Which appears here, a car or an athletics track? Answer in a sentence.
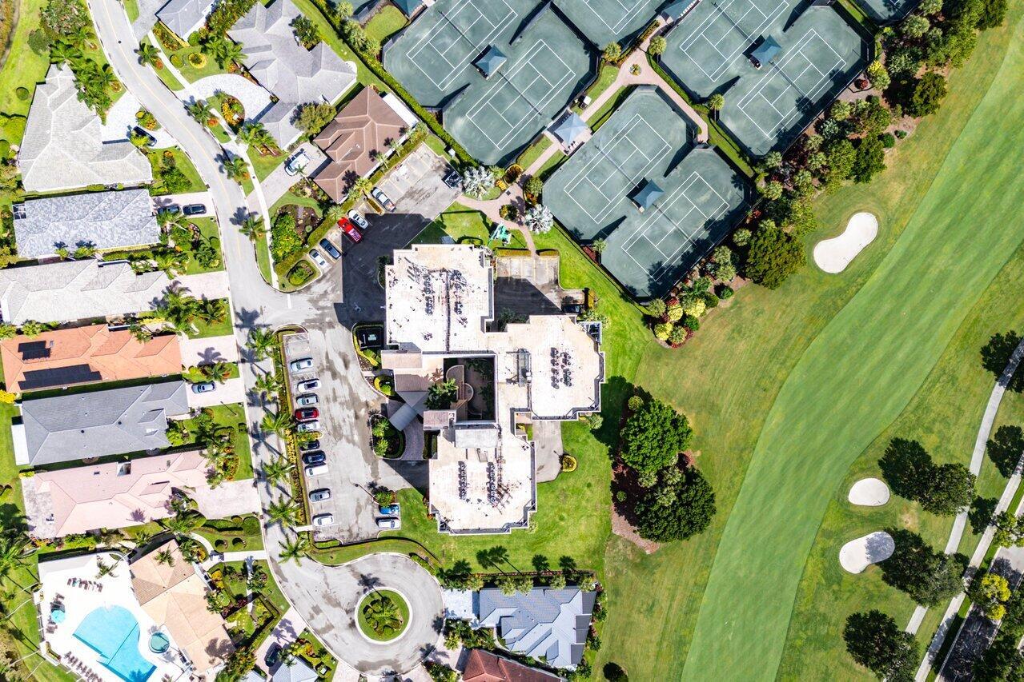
The one in the frame is a car.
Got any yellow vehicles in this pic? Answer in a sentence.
No, there isn't any yellow vehicle down there.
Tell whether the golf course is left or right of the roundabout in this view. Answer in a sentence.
From the viewer's perspective, the golf course falls to the right of the roundabout.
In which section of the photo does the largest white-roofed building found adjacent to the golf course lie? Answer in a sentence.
The largest white-roofed building found adjacent to the golf course sits in the center section of the image.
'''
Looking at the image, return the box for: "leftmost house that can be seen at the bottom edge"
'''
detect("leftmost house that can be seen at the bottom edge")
[129,538,239,674]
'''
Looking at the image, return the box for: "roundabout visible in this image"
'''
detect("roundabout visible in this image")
[355,587,411,644]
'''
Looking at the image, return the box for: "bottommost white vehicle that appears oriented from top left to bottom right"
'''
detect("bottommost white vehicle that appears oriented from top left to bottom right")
[309,248,328,268]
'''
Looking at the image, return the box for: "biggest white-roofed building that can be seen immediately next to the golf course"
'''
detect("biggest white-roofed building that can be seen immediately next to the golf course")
[381,244,605,535]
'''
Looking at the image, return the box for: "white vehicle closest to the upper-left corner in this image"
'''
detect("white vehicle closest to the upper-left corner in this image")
[287,152,307,173]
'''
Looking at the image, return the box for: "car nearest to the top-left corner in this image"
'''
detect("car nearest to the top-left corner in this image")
[133,127,155,143]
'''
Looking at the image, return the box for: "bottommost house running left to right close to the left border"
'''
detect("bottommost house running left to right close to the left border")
[33,449,212,538]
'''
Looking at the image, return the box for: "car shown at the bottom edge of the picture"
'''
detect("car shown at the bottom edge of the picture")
[265,644,281,666]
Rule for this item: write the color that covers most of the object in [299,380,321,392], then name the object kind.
white vehicle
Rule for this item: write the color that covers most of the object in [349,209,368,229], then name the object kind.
white car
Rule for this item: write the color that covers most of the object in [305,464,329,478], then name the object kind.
white vehicle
